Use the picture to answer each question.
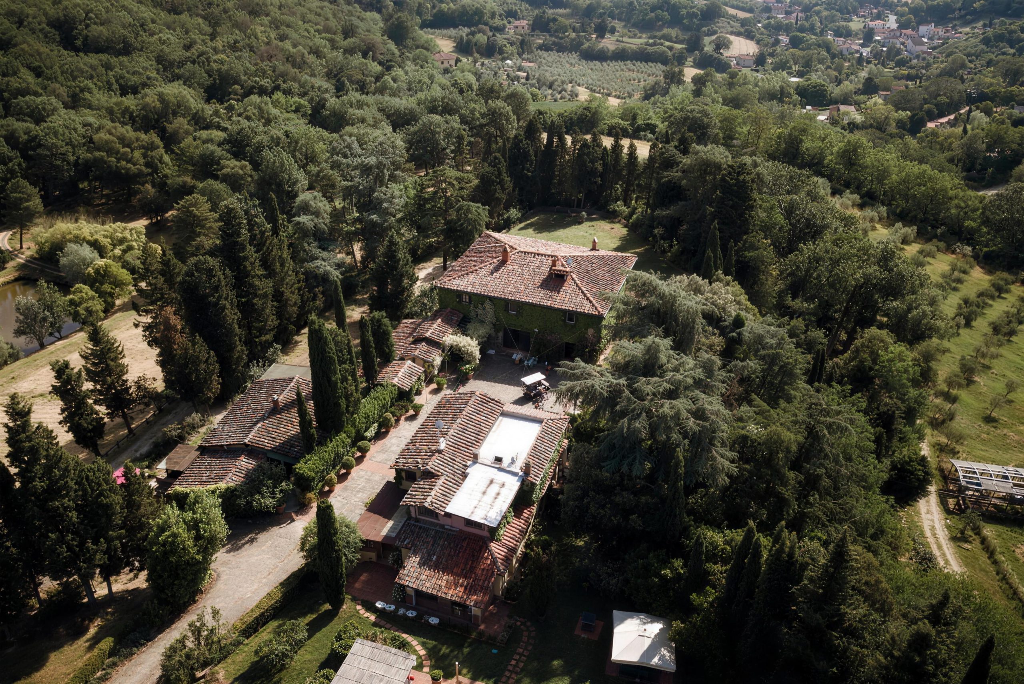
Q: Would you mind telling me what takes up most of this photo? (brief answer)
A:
trees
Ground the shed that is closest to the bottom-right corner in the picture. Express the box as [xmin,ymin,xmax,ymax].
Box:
[944,458,1024,522]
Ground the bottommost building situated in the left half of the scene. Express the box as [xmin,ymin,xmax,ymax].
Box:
[332,640,419,684]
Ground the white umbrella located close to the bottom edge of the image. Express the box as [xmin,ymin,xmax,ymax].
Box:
[606,610,678,678]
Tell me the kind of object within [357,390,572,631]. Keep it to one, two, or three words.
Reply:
house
